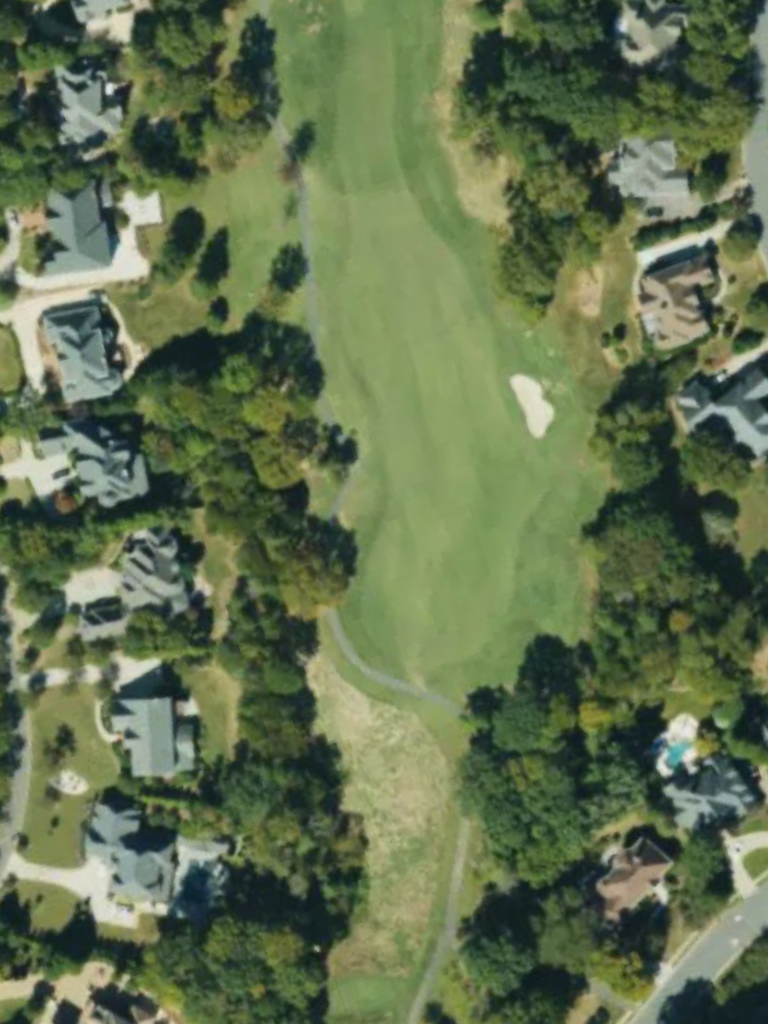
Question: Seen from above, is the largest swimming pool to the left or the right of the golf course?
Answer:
on its left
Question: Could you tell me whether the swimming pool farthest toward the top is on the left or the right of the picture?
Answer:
right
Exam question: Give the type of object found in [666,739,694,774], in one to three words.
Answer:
swimming pool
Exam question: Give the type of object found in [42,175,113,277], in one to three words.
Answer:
house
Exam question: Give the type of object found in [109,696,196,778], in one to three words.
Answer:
house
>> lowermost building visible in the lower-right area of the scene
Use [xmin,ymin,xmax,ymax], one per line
[593,834,677,927]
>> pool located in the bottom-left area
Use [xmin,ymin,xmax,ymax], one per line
[183,858,220,905]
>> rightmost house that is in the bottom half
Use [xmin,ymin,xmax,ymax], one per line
[663,760,758,830]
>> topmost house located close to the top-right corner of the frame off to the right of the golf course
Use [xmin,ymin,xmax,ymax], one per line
[621,0,687,62]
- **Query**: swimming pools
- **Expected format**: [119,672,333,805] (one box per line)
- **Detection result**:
[183,858,220,905]
[666,739,694,774]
